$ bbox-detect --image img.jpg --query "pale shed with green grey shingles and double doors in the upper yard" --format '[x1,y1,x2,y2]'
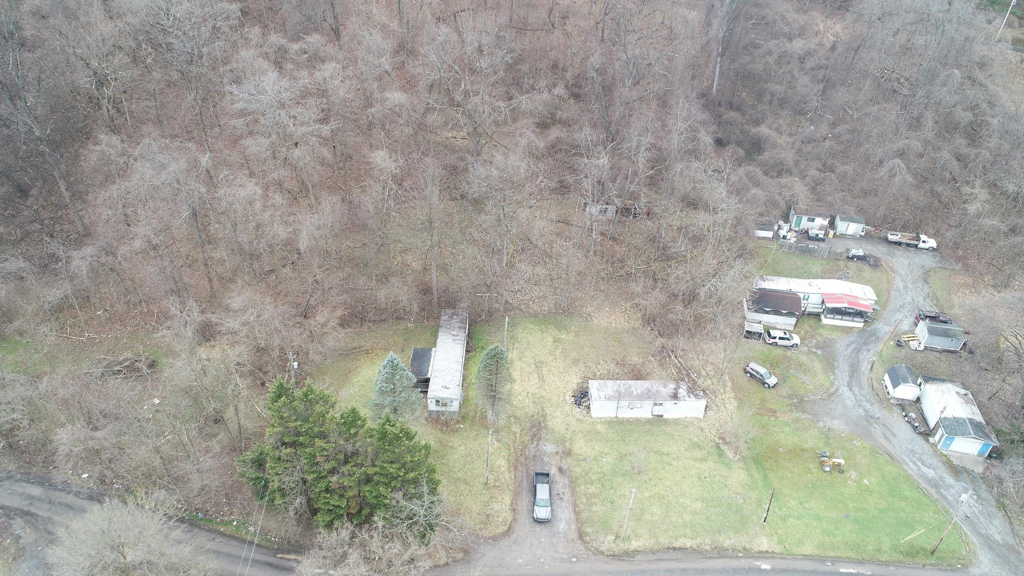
[835,213,866,241]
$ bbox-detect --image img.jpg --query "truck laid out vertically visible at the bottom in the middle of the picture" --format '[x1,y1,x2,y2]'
[532,473,554,523]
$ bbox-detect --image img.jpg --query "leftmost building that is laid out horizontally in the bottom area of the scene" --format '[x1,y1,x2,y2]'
[590,379,709,418]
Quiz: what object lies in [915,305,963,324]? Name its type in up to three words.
vehicle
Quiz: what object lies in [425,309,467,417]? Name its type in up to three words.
house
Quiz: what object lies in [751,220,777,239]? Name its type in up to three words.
shed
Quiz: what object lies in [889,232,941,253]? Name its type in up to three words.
truck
